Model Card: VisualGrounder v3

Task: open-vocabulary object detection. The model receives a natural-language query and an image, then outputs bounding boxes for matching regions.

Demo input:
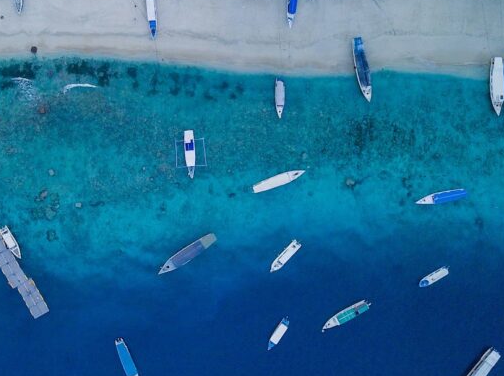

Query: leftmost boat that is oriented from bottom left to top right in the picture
[158,234,218,275]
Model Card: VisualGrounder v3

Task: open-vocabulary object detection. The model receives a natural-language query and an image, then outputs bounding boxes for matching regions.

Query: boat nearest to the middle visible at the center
[249,171,306,193]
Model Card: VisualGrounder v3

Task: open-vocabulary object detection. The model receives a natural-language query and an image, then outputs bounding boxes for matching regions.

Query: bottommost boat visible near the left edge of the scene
[0,224,20,260]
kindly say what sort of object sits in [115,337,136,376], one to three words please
boat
